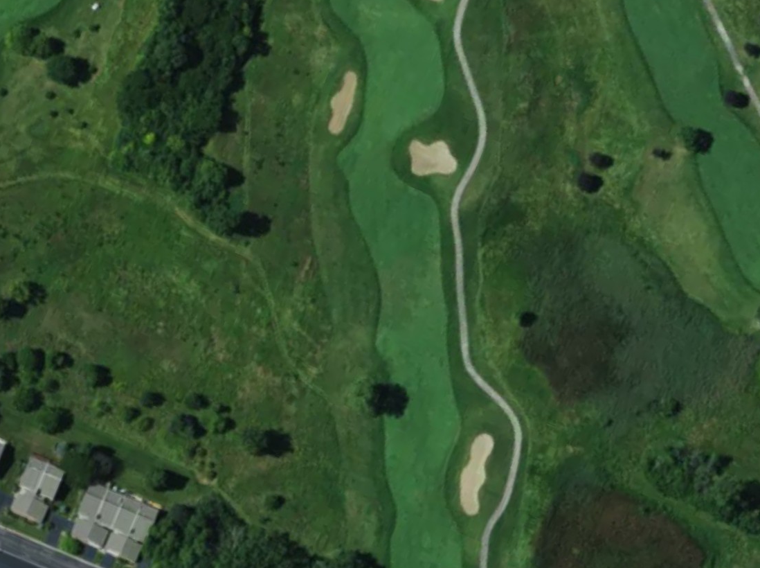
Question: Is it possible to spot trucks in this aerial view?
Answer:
No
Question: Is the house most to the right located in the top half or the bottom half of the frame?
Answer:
bottom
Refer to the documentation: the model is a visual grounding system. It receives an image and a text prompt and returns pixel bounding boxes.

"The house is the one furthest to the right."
[71,486,160,563]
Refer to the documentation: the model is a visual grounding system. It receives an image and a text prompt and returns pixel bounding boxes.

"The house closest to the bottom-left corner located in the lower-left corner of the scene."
[9,455,66,524]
